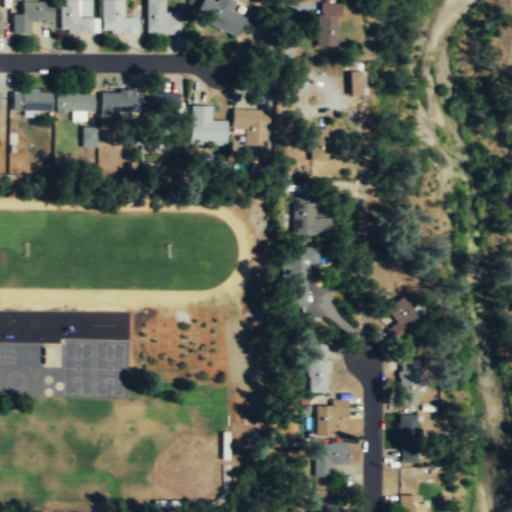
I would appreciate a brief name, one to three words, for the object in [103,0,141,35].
house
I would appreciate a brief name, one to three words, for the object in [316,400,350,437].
house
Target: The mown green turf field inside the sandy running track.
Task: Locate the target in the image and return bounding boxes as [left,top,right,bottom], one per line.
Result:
[0,211,238,290]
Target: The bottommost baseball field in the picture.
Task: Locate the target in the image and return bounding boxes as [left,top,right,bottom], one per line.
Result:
[0,384,228,512]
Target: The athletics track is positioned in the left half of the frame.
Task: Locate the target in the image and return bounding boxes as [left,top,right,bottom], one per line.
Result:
[0,199,248,312]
